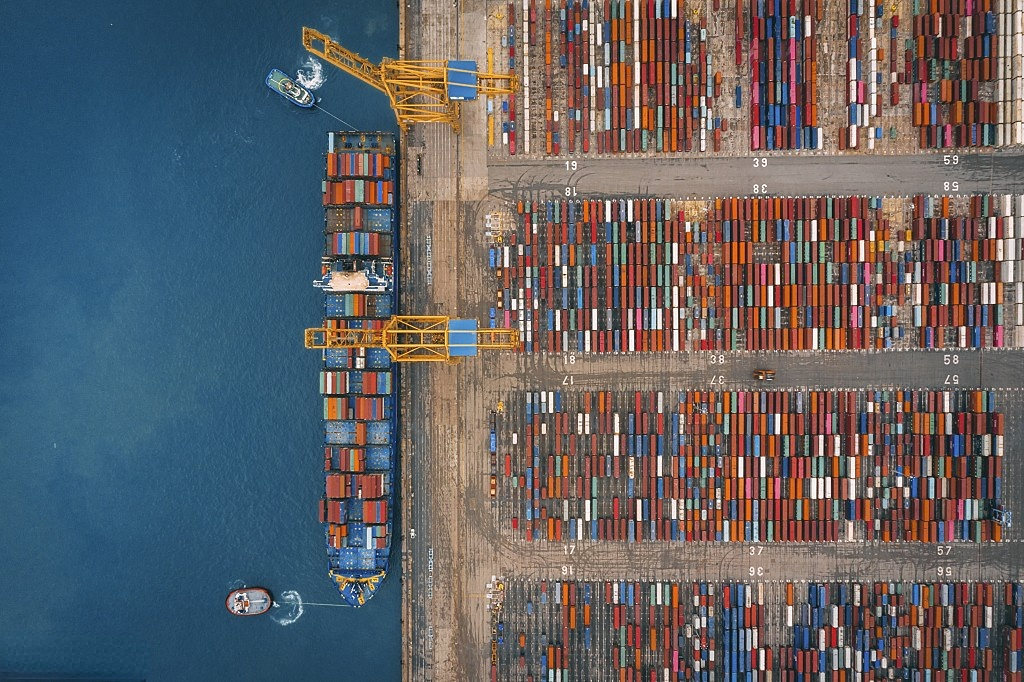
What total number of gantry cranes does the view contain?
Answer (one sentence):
In total, 2 gantry cranes can be seen.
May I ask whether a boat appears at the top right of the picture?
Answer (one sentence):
No, I see no boat at the top right of the picture.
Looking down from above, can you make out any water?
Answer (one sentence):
Yes, water shows up in the scene.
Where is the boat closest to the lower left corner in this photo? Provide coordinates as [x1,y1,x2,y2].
[225,588,272,617]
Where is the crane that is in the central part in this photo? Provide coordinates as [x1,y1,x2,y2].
[305,309,517,369]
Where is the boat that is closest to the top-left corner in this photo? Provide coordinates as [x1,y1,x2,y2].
[264,67,315,105]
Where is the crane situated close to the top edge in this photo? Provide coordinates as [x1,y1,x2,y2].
[304,28,517,141]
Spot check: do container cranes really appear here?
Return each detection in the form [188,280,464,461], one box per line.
[305,309,517,369]
[304,28,517,141]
